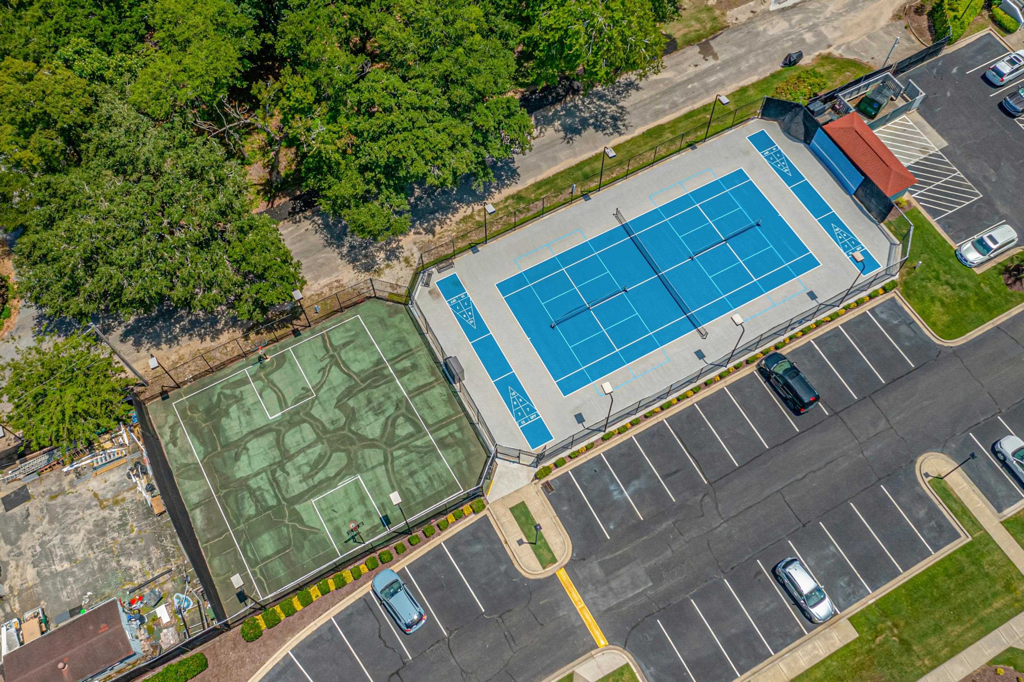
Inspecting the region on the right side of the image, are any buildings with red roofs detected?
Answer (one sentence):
Yes, I can see a building with a red roof on the right side of the image.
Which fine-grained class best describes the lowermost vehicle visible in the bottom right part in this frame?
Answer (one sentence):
It looks like the lowermost vehicle visible in the bottom right part is a car.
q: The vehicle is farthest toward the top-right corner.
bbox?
[986,50,1024,86]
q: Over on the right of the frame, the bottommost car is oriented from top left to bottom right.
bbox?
[776,556,833,625]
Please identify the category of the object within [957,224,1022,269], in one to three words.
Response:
car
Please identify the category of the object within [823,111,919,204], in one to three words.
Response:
building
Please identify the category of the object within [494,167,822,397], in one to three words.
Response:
tennis court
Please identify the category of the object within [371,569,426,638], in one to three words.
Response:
car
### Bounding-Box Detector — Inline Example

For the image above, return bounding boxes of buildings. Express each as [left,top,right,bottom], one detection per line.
[2,598,150,682]
[823,111,919,204]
